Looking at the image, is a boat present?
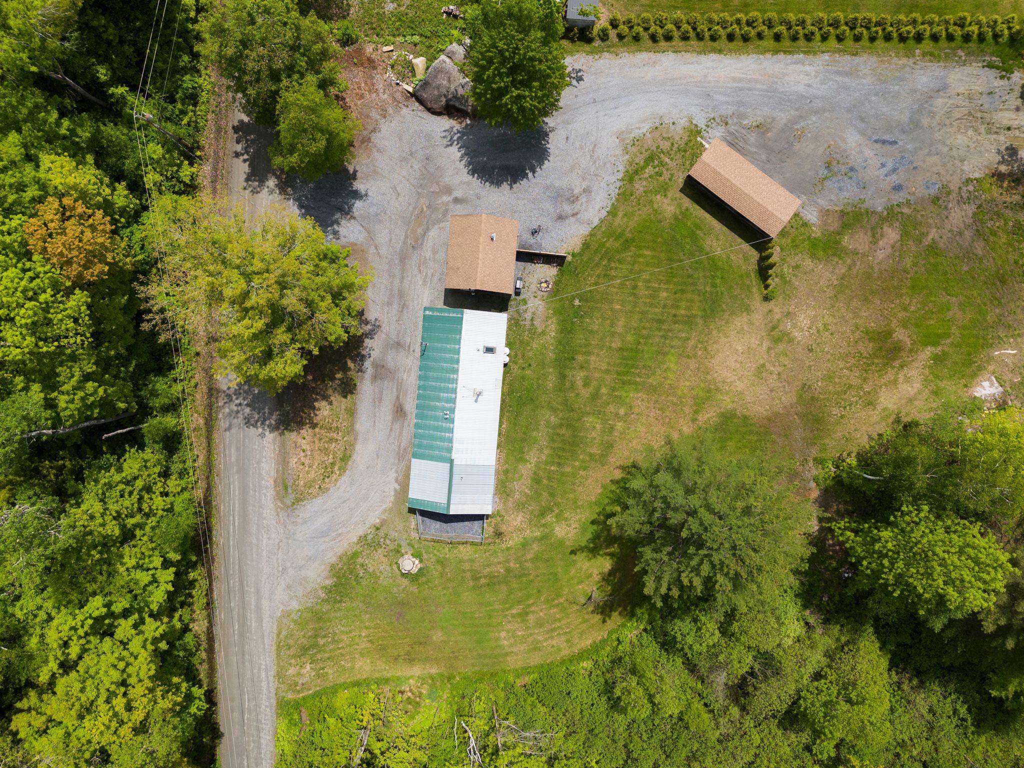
No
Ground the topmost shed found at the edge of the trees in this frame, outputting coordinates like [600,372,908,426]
[566,0,600,28]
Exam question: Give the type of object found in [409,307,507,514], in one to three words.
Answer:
house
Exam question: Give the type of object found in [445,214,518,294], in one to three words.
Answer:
building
